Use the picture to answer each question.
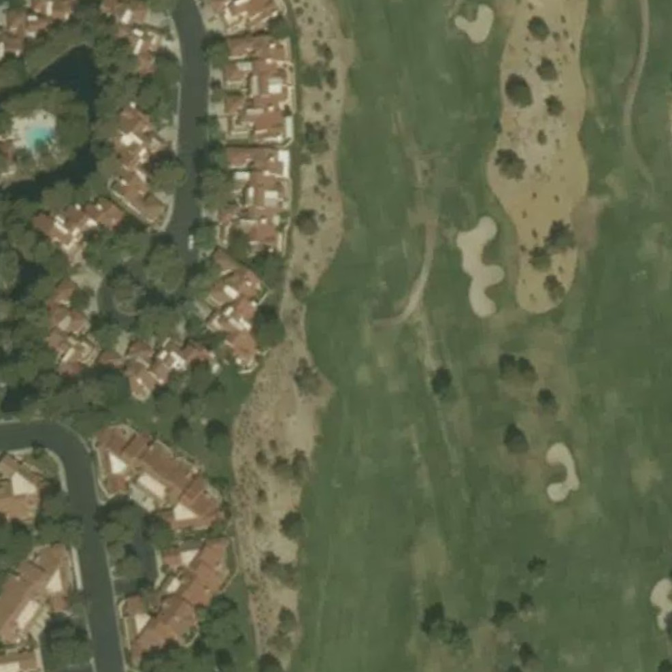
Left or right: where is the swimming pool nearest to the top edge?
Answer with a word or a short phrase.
left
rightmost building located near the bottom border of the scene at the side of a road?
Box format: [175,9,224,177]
[119,528,238,667]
